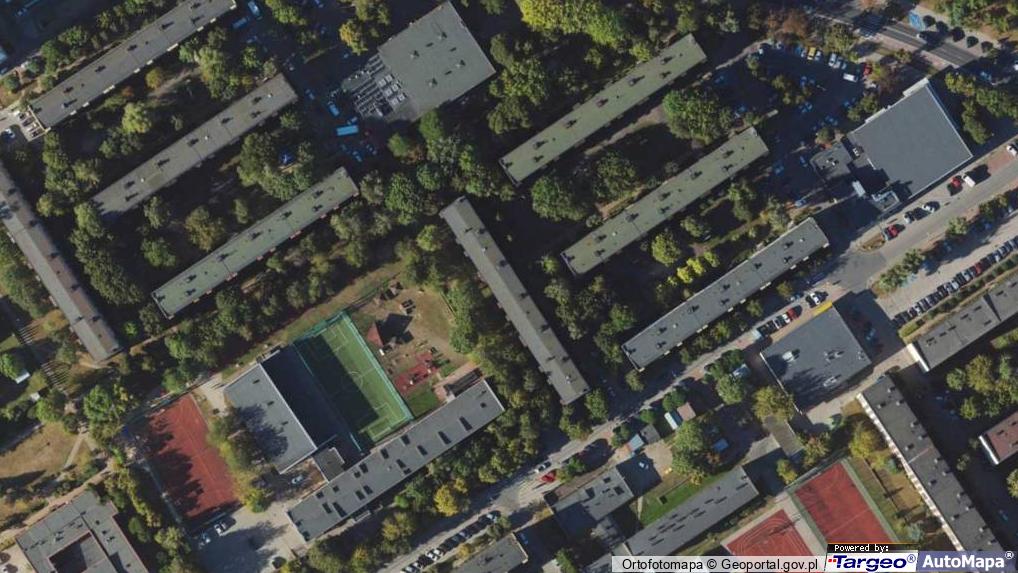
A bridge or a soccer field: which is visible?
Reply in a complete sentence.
It is a soccer field that can be seen here.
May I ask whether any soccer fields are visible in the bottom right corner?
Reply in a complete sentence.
No, no soccer field is visible in the bottom right corner.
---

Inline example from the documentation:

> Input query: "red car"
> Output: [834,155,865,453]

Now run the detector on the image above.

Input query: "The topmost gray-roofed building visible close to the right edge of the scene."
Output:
[807,78,972,211]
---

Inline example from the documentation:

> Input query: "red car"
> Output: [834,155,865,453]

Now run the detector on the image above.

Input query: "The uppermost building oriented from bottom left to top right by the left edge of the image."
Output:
[29,0,241,131]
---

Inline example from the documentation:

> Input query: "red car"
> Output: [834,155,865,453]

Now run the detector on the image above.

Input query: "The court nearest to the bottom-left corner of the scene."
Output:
[138,394,240,526]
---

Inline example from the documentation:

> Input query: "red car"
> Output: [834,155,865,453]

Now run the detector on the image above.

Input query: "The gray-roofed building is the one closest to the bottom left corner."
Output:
[15,491,150,573]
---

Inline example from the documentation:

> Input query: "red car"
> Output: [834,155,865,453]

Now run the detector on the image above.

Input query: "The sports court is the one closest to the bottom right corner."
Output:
[791,459,910,573]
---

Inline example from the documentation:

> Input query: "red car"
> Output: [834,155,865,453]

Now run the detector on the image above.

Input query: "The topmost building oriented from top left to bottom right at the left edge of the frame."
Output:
[0,171,122,364]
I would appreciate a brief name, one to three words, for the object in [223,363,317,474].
building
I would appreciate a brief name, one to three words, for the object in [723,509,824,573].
sports court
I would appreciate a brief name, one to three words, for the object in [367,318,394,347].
shed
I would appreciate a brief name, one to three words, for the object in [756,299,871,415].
building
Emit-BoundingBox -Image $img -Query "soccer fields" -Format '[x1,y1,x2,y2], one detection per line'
[290,311,416,452]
